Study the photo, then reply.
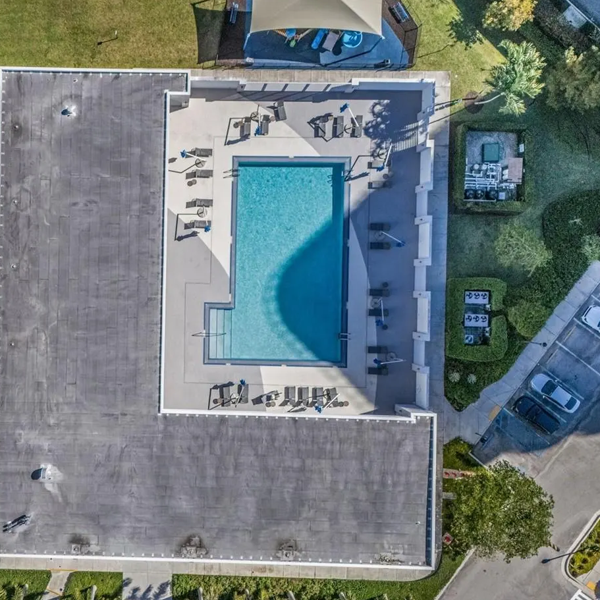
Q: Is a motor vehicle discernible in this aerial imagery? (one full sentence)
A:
Yes, looking at the shot, I can spot a motor vehicle.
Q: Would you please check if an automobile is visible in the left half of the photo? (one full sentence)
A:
No, looking in the left half of the photo, there is no automobile.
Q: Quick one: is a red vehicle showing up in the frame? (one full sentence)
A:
No, there isn't any red vehicle down there.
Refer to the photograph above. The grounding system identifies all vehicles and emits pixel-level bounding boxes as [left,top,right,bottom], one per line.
[579,303,600,332]
[510,393,564,436]
[529,372,583,416]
